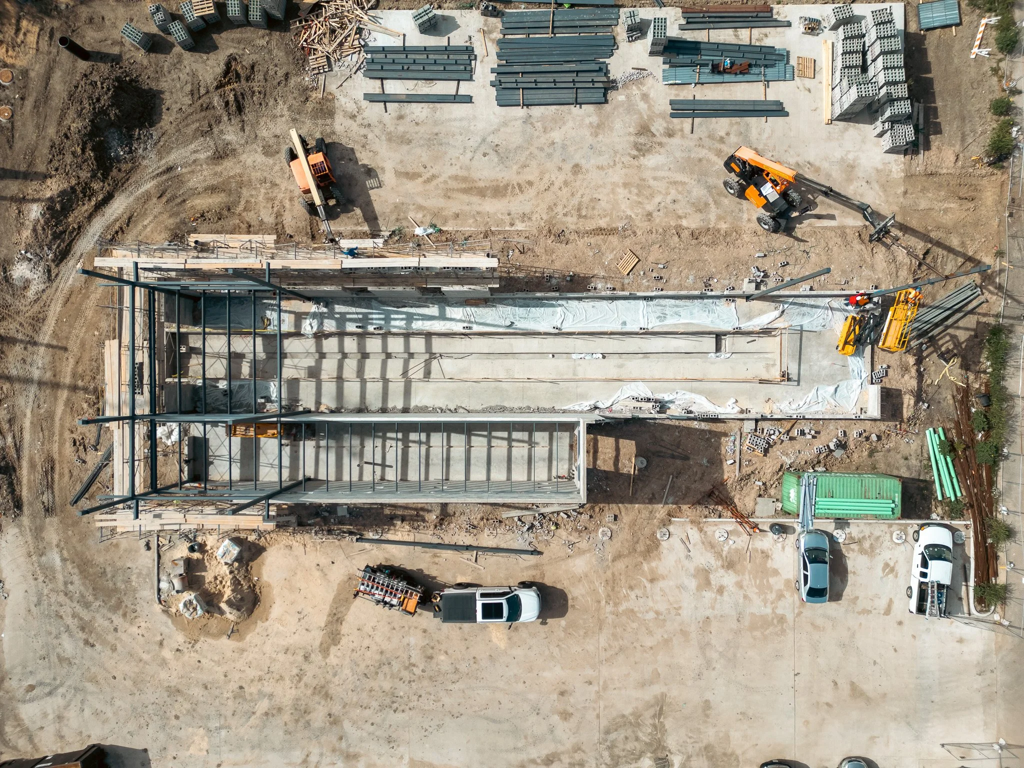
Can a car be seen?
Yes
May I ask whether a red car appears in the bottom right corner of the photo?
No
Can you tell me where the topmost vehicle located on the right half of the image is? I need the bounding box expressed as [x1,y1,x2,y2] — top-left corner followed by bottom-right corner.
[722,147,912,293]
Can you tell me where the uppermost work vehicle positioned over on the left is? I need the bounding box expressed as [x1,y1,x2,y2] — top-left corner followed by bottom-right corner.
[280,120,347,275]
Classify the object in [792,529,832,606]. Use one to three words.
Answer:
car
